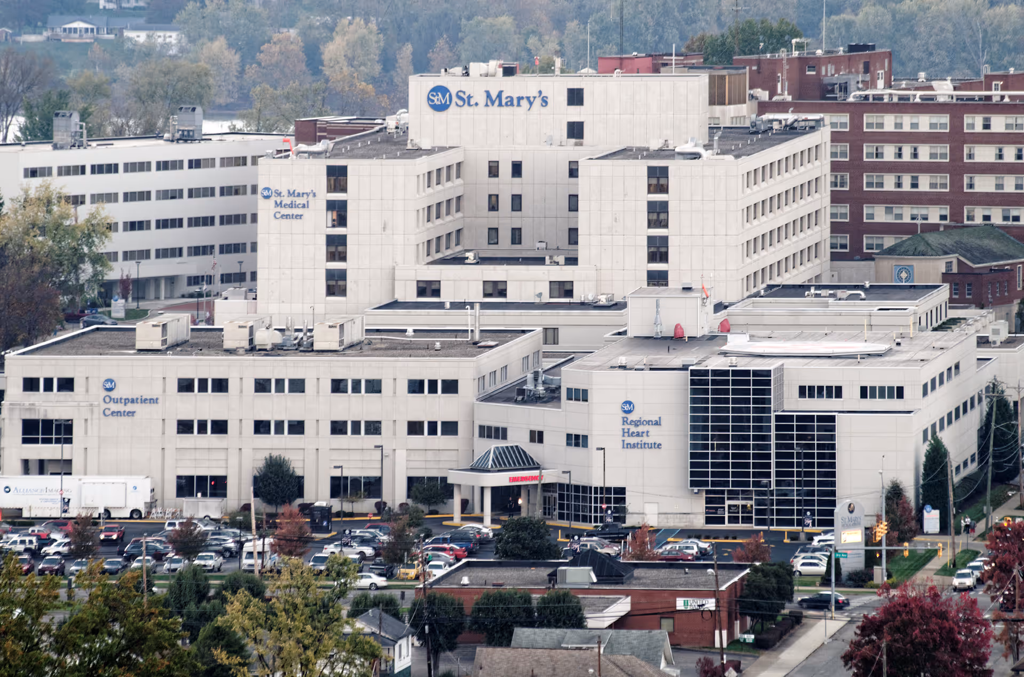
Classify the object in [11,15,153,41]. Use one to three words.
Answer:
house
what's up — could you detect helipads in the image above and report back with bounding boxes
[720,334,891,362]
